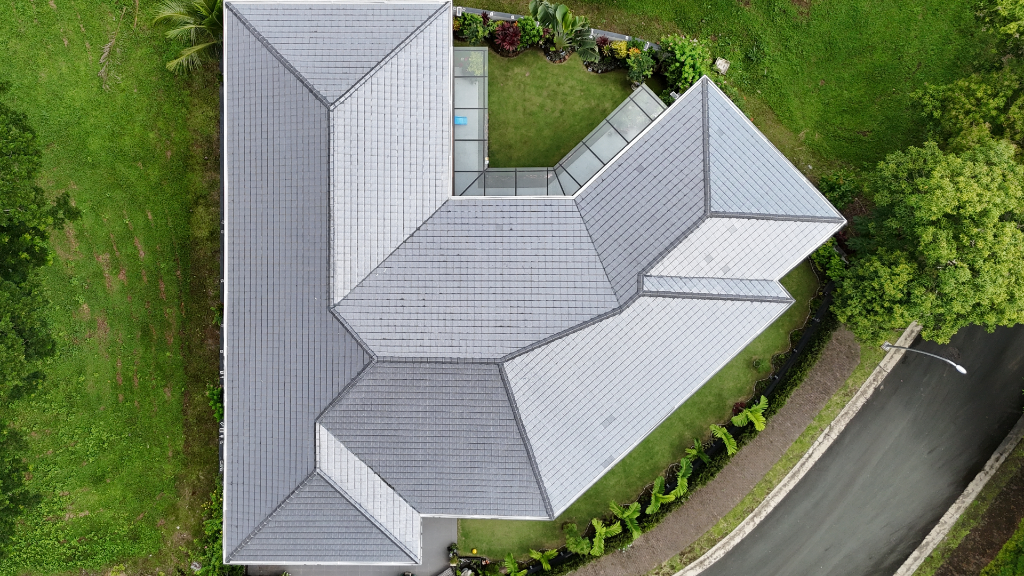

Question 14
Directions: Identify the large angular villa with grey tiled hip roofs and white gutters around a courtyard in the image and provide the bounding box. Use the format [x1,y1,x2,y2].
[223,0,846,564]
